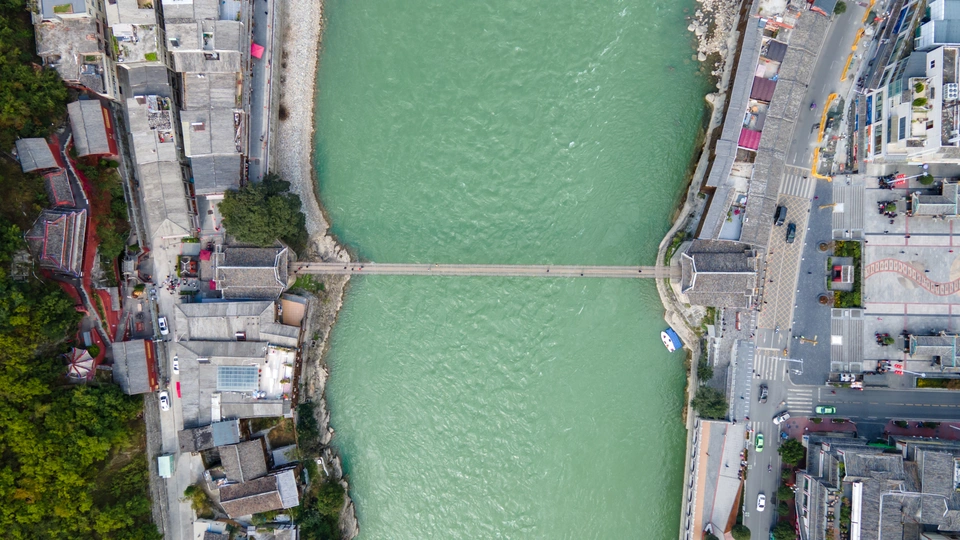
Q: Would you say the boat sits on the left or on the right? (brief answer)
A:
right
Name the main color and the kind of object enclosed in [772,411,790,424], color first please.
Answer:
white vehicle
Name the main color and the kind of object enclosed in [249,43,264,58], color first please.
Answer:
pink umbrella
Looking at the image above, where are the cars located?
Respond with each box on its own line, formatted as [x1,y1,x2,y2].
[159,316,170,335]
[772,411,790,424]
[774,204,786,224]
[756,492,765,512]
[149,285,158,301]
[758,384,769,403]
[839,374,856,382]
[785,223,796,243]
[755,433,764,452]
[160,391,170,410]
[815,405,835,414]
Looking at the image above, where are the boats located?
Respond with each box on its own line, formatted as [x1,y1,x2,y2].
[663,329,683,352]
